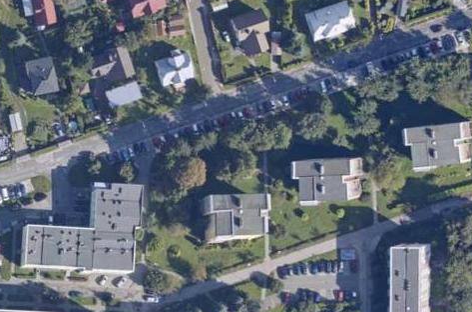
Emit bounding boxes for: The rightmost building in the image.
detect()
[405,123,466,175]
